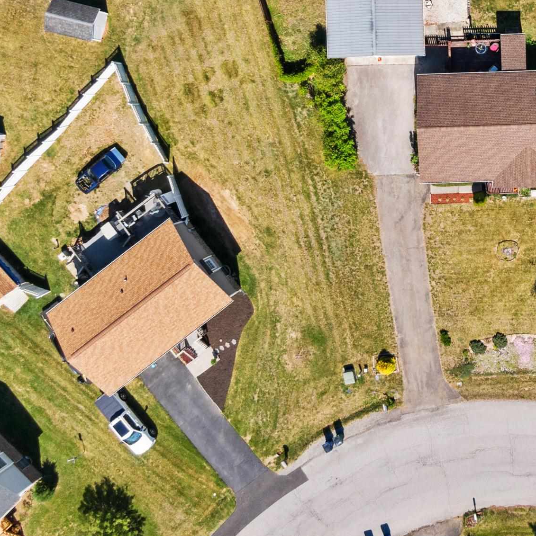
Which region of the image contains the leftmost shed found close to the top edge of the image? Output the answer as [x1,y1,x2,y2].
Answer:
[45,0,114,43]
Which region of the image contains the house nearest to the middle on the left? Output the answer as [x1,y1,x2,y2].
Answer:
[46,217,251,396]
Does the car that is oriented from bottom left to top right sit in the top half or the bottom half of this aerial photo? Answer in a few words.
top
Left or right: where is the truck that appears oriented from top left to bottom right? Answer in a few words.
left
